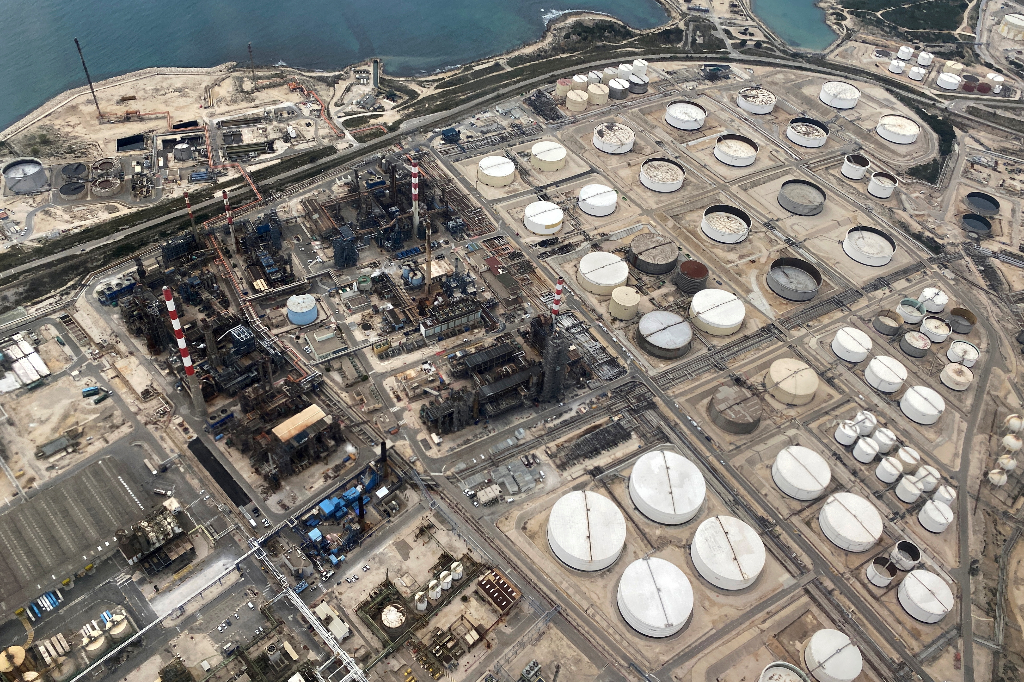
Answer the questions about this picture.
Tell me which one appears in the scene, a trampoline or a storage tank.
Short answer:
storage tank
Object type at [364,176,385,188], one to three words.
cooling tower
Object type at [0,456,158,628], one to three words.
warehouse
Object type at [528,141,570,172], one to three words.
storage tank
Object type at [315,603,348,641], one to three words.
building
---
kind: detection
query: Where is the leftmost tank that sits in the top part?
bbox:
[1,157,53,194]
